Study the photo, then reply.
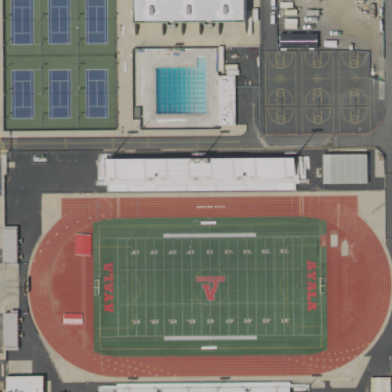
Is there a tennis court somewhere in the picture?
Yes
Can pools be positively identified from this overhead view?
Yes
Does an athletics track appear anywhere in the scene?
Yes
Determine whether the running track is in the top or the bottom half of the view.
bottom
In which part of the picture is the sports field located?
bottom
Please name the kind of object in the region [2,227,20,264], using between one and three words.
building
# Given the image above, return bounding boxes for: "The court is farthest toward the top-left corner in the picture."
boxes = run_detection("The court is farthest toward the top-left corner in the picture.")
[12,0,34,45]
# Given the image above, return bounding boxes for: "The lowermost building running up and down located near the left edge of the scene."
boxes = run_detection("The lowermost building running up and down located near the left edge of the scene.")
[3,312,20,350]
